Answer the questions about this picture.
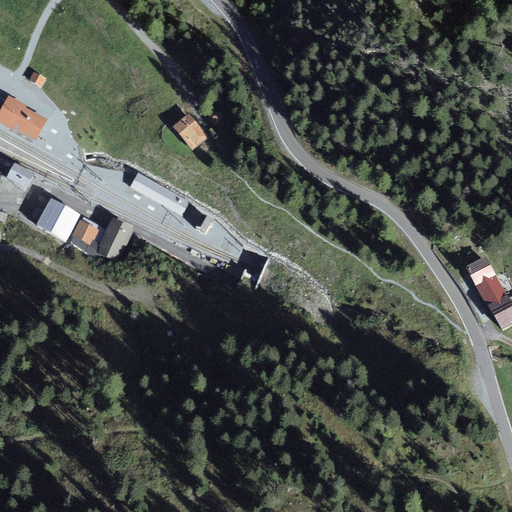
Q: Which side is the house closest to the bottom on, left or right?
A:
right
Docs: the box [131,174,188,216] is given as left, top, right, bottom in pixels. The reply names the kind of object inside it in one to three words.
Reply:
shed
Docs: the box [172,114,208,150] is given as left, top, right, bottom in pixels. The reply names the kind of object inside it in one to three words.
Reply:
house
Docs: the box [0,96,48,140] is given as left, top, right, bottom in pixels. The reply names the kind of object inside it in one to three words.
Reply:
building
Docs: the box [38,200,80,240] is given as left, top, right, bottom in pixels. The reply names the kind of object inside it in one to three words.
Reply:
building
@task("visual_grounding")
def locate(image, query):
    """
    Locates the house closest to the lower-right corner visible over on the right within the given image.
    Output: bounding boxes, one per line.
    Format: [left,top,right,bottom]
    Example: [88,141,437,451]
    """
[466,255,512,329]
